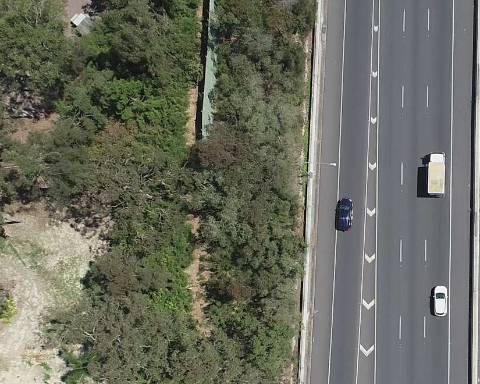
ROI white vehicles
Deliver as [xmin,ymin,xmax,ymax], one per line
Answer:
[432,285,447,316]
[427,152,446,196]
